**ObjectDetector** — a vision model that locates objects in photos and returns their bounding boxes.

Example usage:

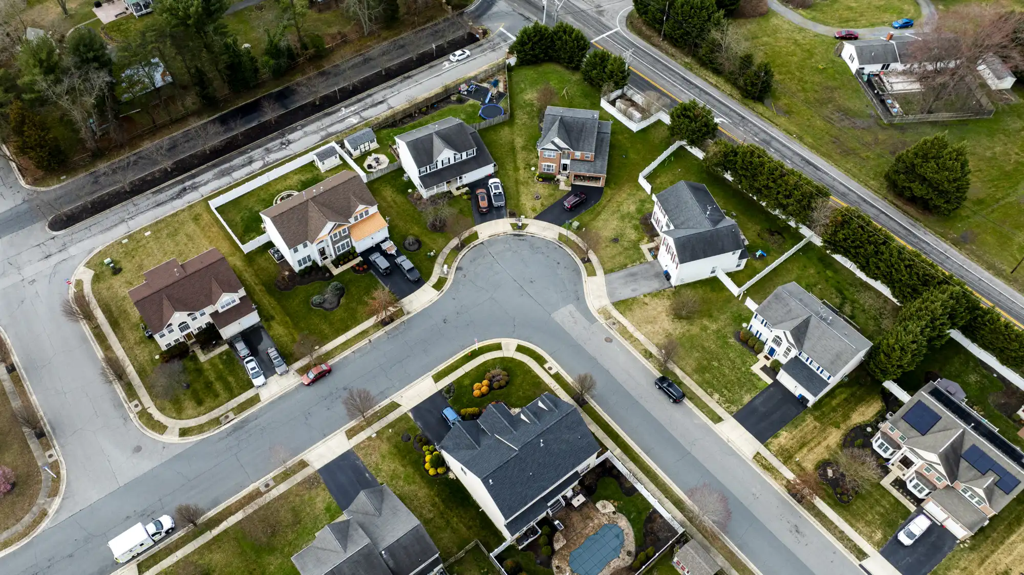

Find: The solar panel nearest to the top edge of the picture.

[900,396,945,437]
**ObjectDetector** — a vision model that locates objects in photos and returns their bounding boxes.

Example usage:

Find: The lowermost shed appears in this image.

[671,541,728,575]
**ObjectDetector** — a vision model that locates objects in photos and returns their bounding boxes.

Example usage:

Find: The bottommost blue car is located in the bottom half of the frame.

[437,404,464,432]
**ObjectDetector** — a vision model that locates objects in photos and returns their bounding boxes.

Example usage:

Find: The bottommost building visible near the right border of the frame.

[873,376,1024,541]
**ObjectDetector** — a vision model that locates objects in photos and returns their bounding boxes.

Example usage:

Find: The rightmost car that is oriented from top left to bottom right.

[653,376,687,406]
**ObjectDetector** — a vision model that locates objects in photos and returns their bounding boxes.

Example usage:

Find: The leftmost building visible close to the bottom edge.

[291,484,444,575]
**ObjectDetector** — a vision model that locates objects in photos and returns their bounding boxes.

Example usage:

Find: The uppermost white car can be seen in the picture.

[449,49,471,62]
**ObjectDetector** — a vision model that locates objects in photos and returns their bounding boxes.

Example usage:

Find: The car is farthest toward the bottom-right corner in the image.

[899,514,936,550]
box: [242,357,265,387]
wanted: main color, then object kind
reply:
white car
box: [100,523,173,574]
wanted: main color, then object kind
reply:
white truck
